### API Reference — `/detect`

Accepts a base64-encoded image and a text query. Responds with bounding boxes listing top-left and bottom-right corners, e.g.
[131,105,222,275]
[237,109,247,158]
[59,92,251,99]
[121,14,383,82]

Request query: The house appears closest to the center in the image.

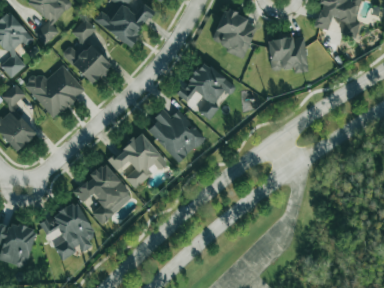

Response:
[146,106,204,164]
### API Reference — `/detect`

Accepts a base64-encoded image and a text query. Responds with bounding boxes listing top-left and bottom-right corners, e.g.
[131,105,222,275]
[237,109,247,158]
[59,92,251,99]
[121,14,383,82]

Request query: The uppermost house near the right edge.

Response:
[314,0,365,38]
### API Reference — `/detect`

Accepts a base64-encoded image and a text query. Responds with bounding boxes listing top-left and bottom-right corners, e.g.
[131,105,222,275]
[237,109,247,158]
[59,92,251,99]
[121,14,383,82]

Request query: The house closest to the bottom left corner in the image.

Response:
[0,226,38,264]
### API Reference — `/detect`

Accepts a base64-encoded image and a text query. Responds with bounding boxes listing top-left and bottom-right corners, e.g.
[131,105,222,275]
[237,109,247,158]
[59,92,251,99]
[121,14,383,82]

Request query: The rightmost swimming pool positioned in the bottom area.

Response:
[146,165,171,191]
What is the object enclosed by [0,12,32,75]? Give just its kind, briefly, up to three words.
house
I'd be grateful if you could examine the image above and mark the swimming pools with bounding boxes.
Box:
[146,165,171,191]
[358,0,381,24]
[112,199,138,225]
